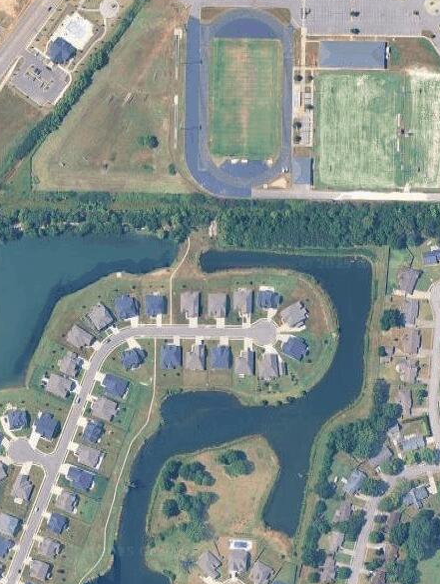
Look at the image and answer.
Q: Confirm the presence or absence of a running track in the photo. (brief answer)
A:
Yes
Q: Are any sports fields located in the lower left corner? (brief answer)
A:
No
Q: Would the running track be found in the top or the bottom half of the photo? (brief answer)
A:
top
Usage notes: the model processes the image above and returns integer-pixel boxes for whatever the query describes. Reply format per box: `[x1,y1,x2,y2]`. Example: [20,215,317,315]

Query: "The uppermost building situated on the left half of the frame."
[47,35,78,63]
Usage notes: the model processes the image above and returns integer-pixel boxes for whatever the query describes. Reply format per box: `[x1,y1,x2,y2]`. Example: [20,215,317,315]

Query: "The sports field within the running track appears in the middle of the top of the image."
[210,38,283,156]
